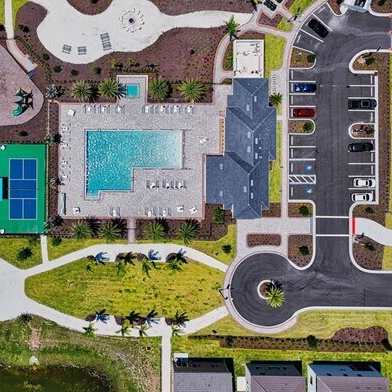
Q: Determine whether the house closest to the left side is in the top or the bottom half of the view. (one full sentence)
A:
The bottom half of the photo is where the house closest to the left side is.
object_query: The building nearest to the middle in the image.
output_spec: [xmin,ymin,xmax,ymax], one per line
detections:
[205,78,277,219]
